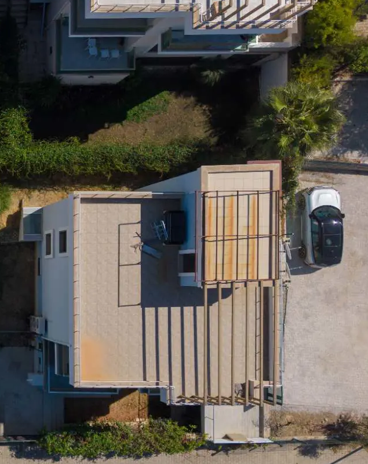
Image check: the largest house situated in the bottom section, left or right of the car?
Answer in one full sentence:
From the viewer's perspective, the largest house situated in the bottom section falls to the left of the car.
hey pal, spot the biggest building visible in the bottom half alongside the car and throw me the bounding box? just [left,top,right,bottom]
[8,161,282,444]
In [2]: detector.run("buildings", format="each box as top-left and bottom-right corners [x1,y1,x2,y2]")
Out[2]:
[29,0,318,86]
[8,161,282,444]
